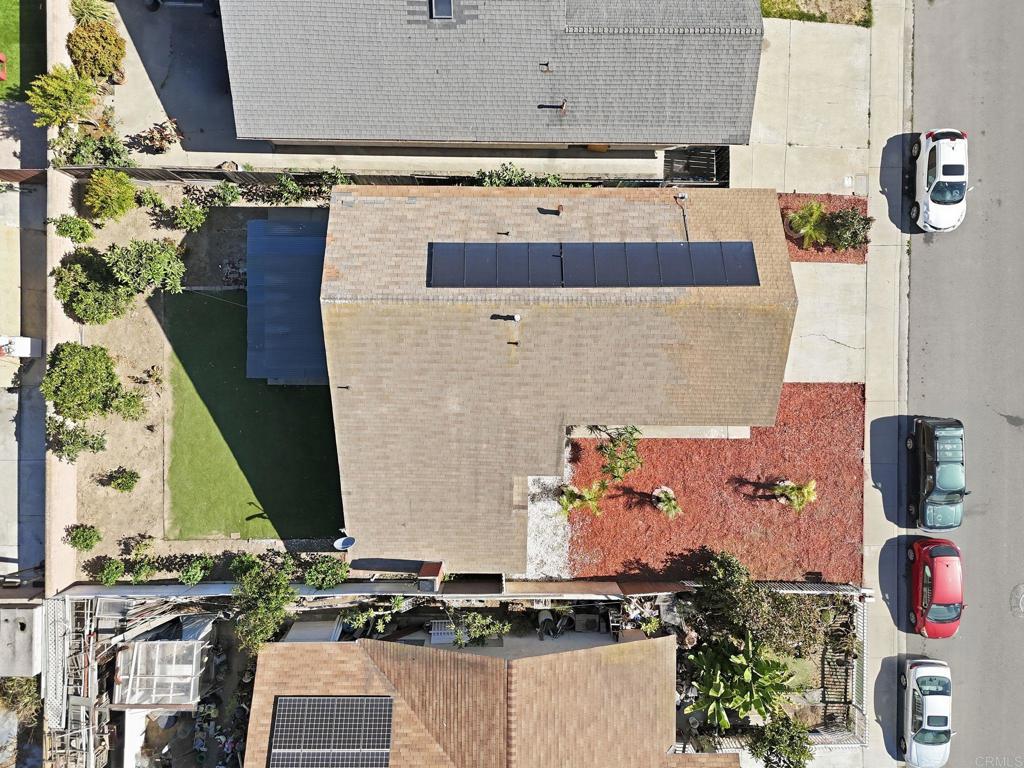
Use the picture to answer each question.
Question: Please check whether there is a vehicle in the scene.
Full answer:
Yes, a vehicle can be made out from above.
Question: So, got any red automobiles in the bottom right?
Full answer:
Yes, in the bottom right there is a red automobile.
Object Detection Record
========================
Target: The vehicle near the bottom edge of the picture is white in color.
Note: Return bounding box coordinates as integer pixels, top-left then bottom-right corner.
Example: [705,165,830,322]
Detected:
[899,653,958,768]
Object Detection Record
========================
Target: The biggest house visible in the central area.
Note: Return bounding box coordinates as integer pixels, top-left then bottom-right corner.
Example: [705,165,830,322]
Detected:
[319,185,798,590]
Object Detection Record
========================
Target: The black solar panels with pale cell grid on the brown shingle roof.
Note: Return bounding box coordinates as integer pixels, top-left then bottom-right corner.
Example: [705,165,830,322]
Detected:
[265,696,391,768]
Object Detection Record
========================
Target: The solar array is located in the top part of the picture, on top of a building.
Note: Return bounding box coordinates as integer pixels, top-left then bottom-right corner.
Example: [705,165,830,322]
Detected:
[431,243,759,290]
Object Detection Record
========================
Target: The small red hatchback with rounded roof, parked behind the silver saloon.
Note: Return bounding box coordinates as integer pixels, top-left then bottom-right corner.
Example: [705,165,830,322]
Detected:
[908,535,968,637]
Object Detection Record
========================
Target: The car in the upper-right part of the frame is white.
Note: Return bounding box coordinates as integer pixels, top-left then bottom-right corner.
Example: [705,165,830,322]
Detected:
[911,129,974,234]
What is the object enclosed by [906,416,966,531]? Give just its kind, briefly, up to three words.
car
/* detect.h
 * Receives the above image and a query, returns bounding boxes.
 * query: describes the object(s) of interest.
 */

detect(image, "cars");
[908,535,968,637]
[906,416,966,531]
[911,129,974,234]
[899,653,958,768]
